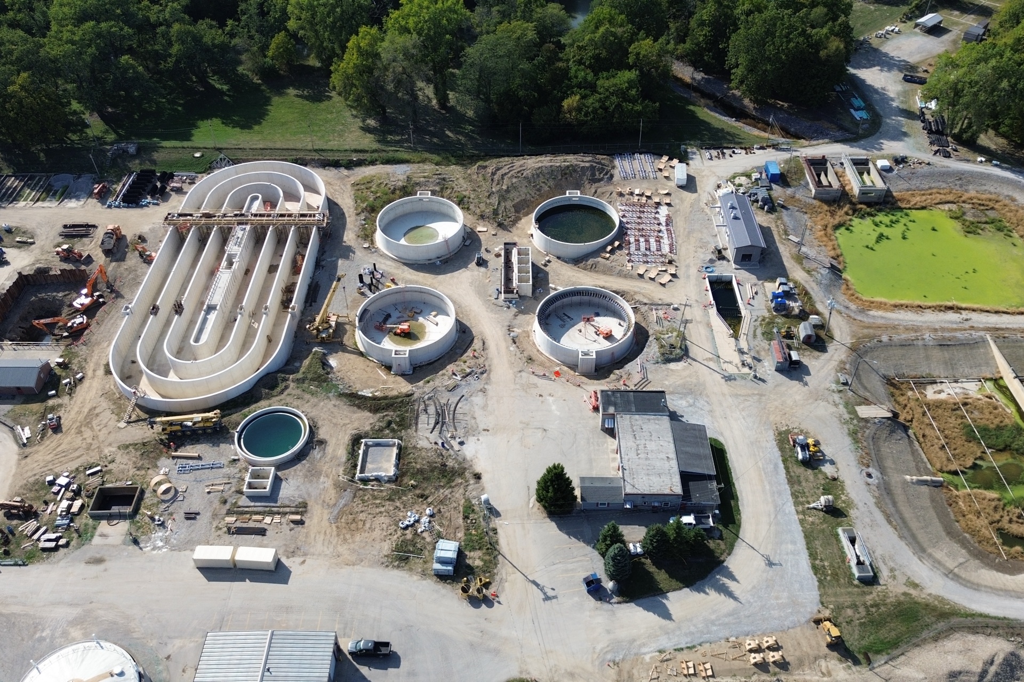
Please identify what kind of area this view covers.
industrial area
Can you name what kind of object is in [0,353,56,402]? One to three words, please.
building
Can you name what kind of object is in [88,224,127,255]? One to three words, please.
truck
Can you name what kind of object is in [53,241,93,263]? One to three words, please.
work vehicle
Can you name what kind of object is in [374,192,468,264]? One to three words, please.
storage tank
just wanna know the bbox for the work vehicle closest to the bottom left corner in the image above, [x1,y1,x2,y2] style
[0,496,51,521]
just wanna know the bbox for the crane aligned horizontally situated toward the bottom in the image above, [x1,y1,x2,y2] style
[136,411,222,439]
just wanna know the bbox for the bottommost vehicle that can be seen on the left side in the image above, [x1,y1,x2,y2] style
[347,643,391,662]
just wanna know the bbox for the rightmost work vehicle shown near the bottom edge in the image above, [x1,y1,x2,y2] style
[808,613,848,651]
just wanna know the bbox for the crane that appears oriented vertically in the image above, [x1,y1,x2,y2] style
[310,269,349,342]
